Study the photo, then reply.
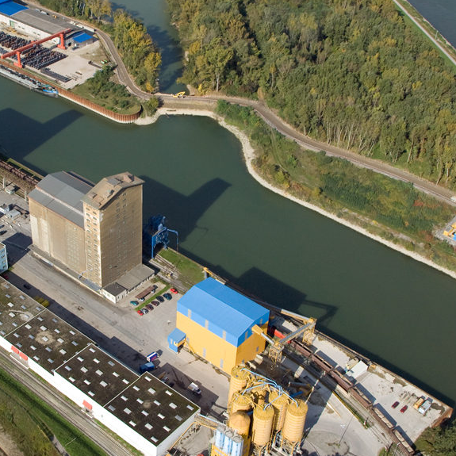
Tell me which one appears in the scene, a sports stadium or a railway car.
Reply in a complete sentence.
It is a railway car that can be seen here.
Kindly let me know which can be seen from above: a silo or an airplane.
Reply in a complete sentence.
There is a silo in the scene.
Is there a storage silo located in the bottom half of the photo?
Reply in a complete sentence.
Yes, a storage silo is visible in the bottom half of the photo.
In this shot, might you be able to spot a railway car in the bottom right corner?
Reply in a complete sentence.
Yes, a railway car is visible in the bottom right corner.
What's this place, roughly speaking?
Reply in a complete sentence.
It's a port.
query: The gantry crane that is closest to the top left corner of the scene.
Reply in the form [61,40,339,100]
[0,28,67,69]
